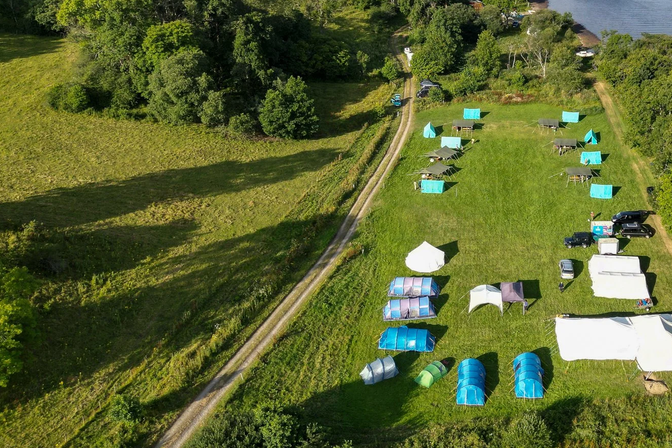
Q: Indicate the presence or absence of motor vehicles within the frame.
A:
Yes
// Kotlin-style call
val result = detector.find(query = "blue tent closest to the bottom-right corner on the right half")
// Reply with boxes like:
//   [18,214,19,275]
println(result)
[504,350,552,403]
